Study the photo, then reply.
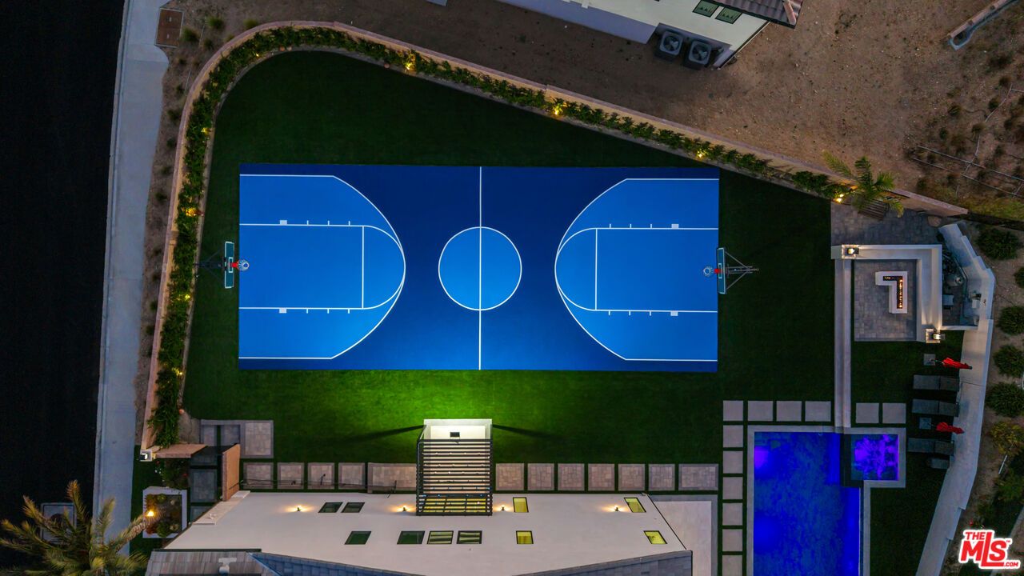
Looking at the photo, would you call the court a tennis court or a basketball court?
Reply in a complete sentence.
In the photo, the court shows up as a basketball court.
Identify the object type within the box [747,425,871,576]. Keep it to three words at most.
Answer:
swimming pool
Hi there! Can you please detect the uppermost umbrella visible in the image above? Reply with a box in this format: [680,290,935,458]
[924,354,973,370]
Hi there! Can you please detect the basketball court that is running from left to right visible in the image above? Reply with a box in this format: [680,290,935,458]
[239,164,719,372]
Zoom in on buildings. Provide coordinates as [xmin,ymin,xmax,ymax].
[148,489,695,576]
[494,0,803,66]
